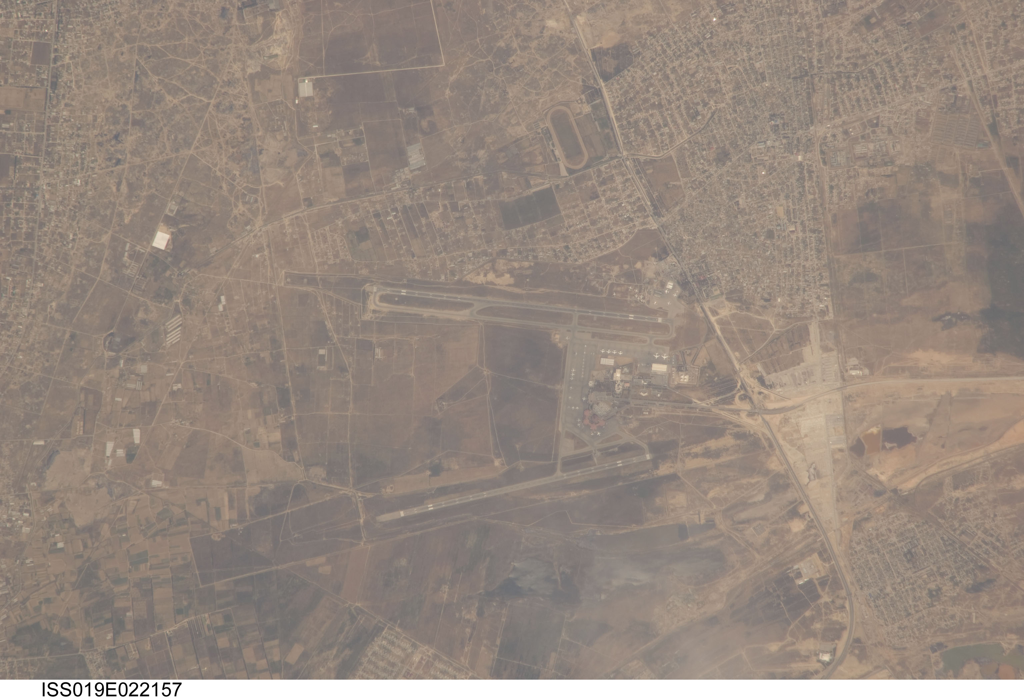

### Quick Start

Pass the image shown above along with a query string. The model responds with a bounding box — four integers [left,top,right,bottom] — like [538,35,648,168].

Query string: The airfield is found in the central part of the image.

[366,254,684,522]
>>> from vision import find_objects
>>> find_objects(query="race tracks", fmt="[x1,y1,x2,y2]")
[547,106,589,169]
